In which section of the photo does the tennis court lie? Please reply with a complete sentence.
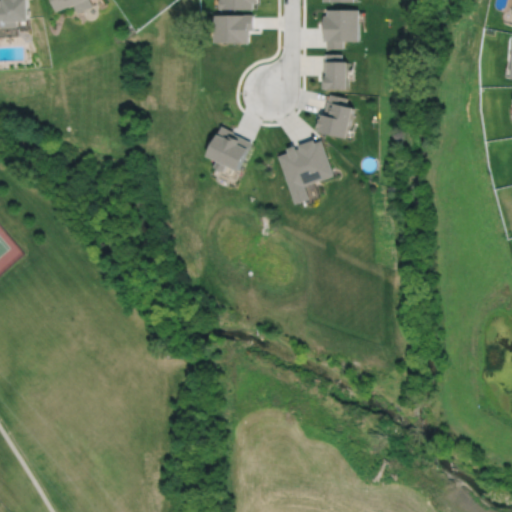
The tennis court appears toward the left of the photo.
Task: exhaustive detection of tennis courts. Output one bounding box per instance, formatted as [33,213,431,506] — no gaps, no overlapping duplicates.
[0,226,24,274]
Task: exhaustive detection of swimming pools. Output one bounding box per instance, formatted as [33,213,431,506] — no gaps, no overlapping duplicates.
[361,156,382,174]
[495,0,508,10]
[0,46,24,62]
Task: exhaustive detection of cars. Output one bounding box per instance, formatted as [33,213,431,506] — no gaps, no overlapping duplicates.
[306,105,318,112]
[317,94,326,100]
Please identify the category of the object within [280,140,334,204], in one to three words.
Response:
house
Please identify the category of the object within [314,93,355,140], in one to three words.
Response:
house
